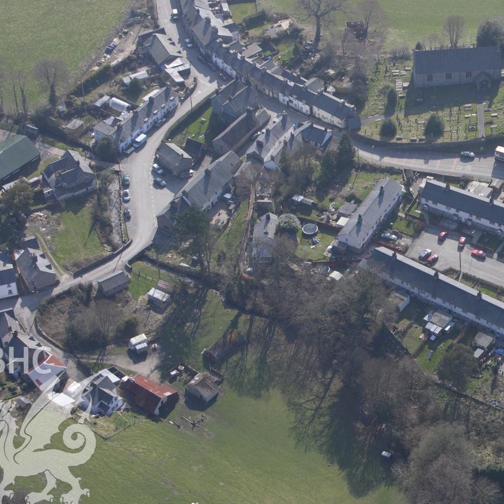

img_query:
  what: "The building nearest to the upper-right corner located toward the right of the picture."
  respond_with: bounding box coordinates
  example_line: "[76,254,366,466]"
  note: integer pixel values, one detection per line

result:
[413,46,502,86]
